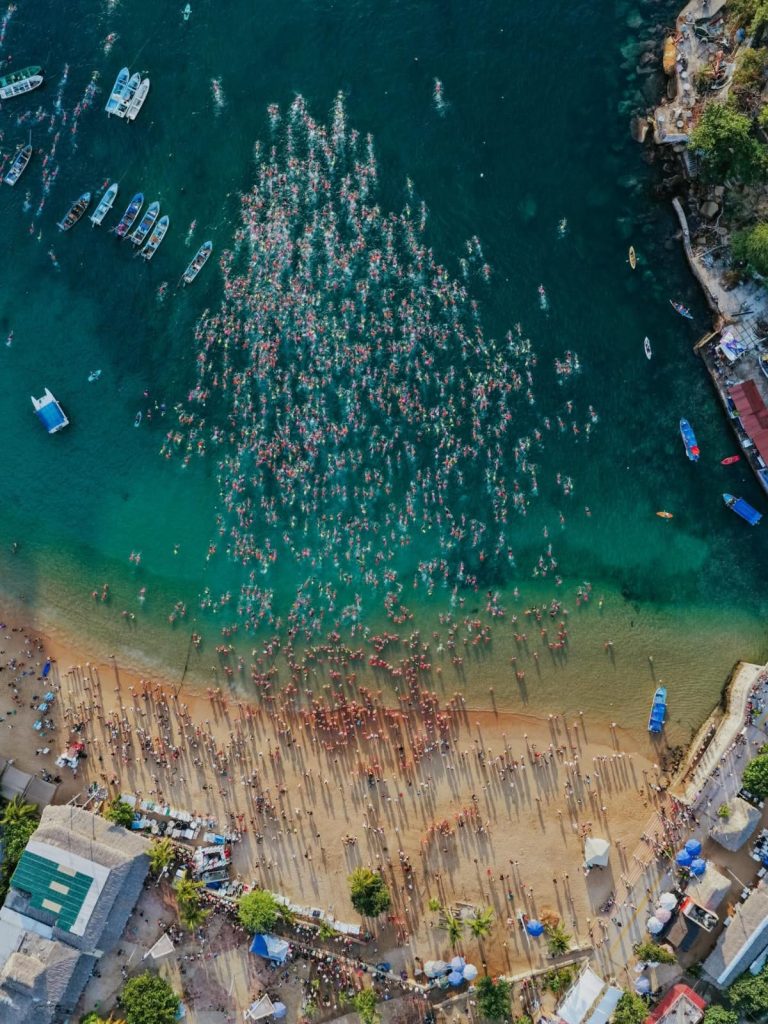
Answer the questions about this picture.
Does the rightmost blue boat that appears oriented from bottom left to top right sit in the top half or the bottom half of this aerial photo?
top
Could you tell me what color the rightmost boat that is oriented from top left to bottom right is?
blue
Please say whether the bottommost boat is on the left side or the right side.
right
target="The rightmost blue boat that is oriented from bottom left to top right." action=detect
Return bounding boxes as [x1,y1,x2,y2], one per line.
[181,239,212,284]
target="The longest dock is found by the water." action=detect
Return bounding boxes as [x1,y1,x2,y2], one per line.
[667,659,764,799]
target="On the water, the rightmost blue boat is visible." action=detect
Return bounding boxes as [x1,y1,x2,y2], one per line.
[724,493,766,528]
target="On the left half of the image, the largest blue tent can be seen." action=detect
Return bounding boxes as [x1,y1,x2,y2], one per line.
[249,934,291,966]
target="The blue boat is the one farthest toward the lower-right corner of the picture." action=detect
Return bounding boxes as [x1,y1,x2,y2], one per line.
[647,684,668,736]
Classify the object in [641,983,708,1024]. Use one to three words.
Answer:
building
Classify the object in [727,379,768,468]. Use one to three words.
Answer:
building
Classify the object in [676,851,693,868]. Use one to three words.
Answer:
umbrella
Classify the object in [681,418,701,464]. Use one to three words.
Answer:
boat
